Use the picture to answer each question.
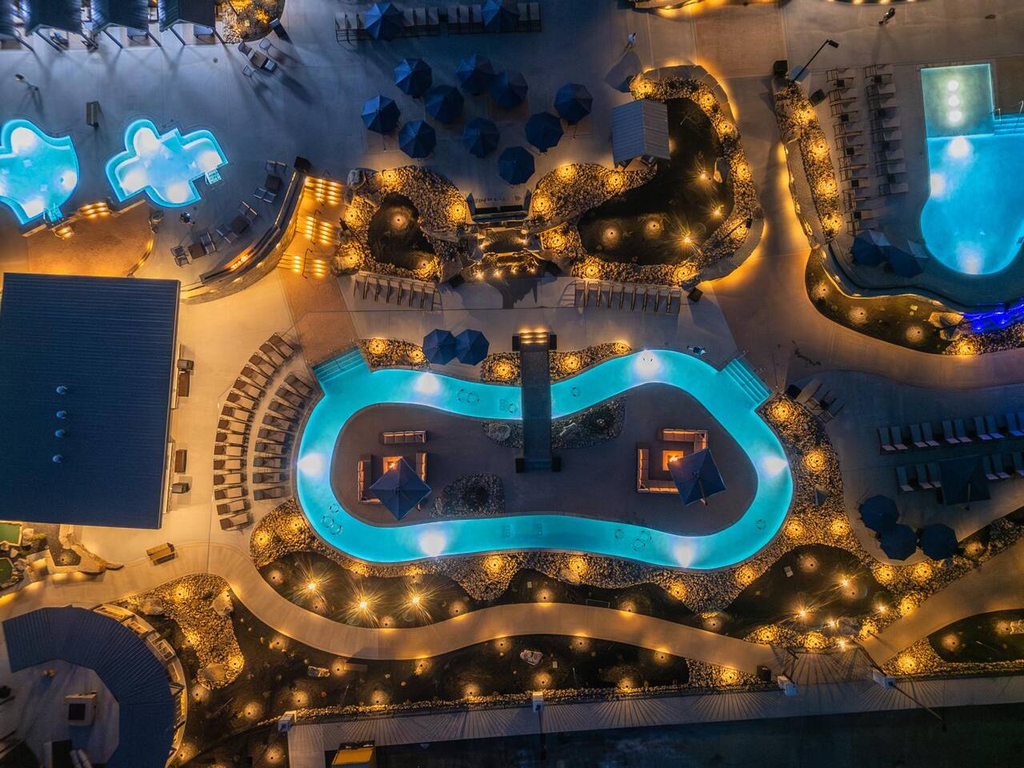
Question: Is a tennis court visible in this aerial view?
No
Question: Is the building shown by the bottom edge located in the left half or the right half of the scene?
left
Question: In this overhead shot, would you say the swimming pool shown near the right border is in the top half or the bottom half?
top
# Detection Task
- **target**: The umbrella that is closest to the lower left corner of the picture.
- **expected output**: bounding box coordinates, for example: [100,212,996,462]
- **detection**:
[369,457,432,521]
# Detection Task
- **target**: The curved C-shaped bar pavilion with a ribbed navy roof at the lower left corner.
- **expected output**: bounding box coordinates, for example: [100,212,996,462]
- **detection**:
[2,598,196,768]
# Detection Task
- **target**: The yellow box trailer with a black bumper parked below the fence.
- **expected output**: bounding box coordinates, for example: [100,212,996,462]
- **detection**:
[331,739,377,768]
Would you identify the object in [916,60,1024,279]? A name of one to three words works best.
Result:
swimming pool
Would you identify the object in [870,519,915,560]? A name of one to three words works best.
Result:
umbrella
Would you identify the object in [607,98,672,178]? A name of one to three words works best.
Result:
shed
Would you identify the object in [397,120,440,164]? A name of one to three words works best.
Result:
umbrella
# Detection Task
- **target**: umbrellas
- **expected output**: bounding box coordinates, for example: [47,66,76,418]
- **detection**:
[852,491,896,532]
[462,120,502,161]
[870,519,915,560]
[939,455,991,516]
[910,520,954,560]
[360,95,403,138]
[369,457,432,521]
[669,449,726,514]
[362,2,405,48]
[488,72,528,113]
[397,120,440,164]
[455,56,495,97]
[420,328,456,368]
[875,239,924,283]
[395,59,435,100]
[453,326,494,367]
[523,113,565,155]
[425,87,466,128]
[551,84,594,128]
[843,231,885,271]
[496,146,538,189]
